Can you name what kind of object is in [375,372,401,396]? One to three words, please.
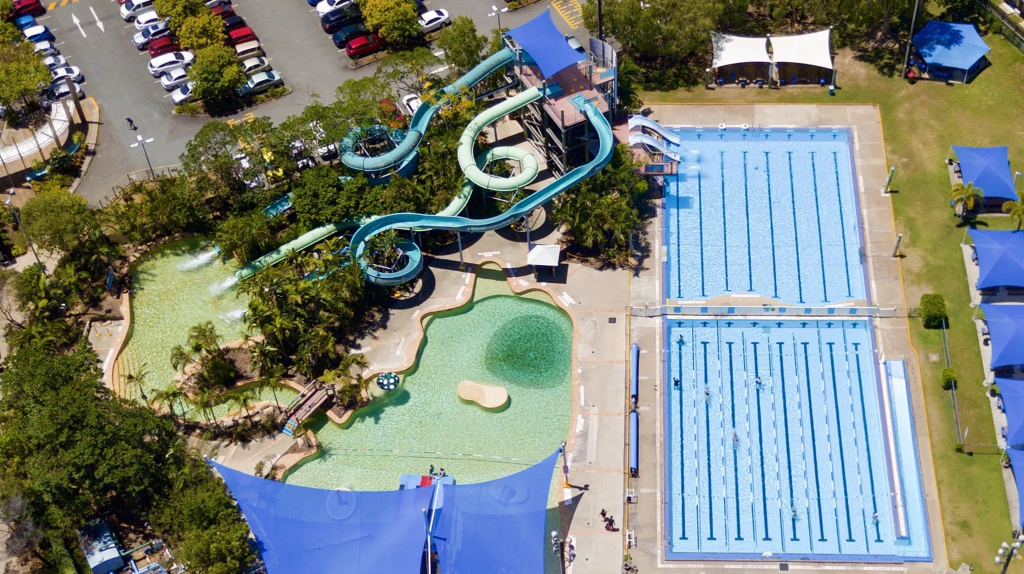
fountain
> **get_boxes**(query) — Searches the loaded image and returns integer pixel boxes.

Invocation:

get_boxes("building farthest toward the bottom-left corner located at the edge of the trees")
[77,512,136,574]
